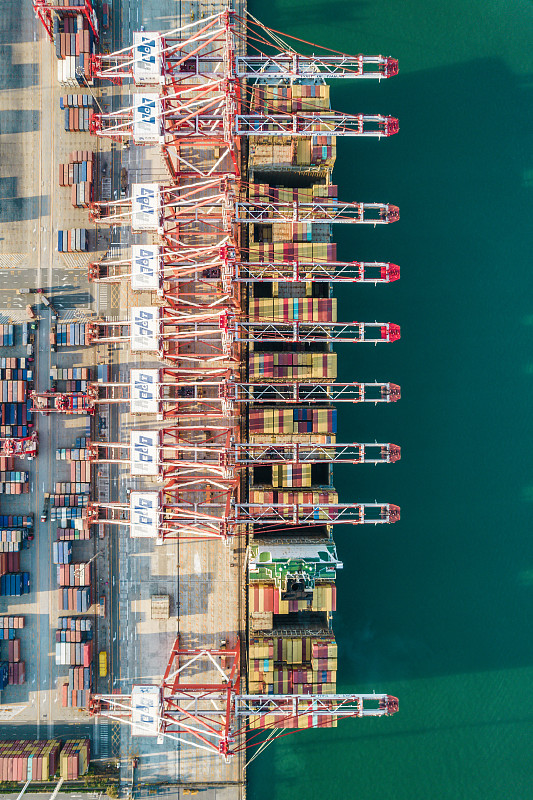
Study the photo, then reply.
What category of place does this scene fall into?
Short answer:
port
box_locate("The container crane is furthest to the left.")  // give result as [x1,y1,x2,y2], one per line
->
[0,424,39,459]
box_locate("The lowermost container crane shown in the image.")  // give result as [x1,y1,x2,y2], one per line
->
[88,631,399,757]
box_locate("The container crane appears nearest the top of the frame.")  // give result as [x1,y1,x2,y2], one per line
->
[27,0,98,48]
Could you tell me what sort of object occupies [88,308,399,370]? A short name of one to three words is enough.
container crane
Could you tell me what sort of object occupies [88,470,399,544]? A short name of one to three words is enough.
container crane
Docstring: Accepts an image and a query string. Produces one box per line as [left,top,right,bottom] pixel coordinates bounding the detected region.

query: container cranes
[88,631,399,757]
[27,0,98,48]
[88,367,399,420]
[0,424,39,459]
[88,177,399,263]
[88,308,399,370]
[88,243,399,318]
[88,470,399,544]
[88,12,399,144]
[88,419,399,481]
[88,77,399,195]
[28,384,97,420]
